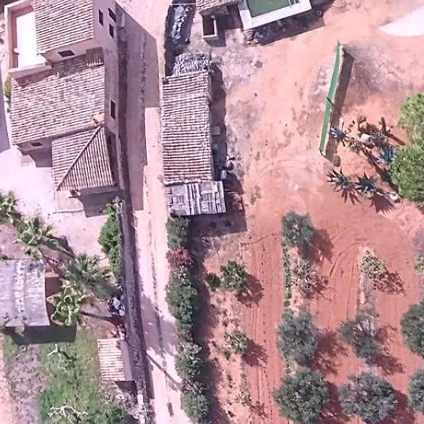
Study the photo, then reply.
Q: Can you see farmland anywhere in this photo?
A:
Yes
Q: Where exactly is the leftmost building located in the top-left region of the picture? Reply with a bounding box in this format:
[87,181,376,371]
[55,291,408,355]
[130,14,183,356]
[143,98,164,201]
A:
[3,0,119,200]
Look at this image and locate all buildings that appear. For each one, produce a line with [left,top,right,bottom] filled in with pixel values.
[0,258,57,330]
[96,340,130,382]
[3,0,119,200]
[196,0,240,16]
[160,69,215,186]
